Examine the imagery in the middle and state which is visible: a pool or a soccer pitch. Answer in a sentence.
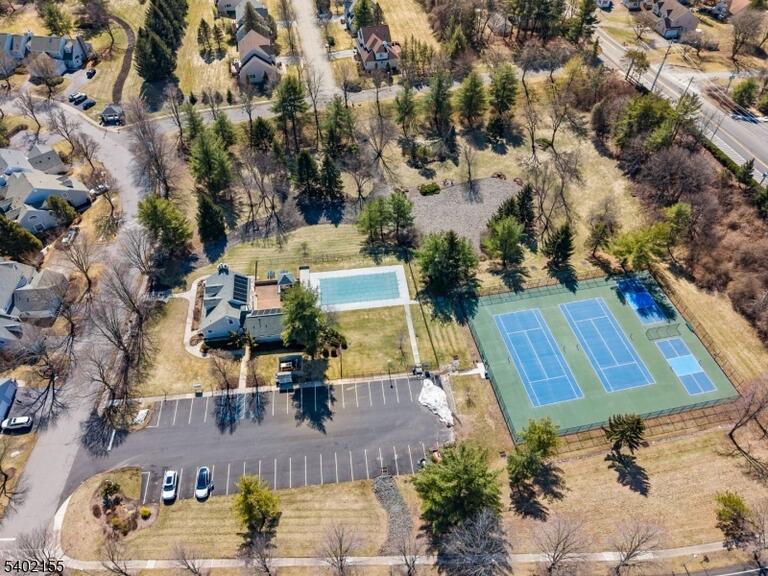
The feature located in the middle is a pool.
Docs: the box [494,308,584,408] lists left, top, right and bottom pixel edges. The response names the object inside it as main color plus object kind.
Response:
blue tennis court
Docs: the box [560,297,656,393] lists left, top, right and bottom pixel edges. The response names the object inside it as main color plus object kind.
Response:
blue tennis court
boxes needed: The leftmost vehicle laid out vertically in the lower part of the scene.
[161,472,176,500]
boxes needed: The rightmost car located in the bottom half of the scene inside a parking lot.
[195,470,209,497]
